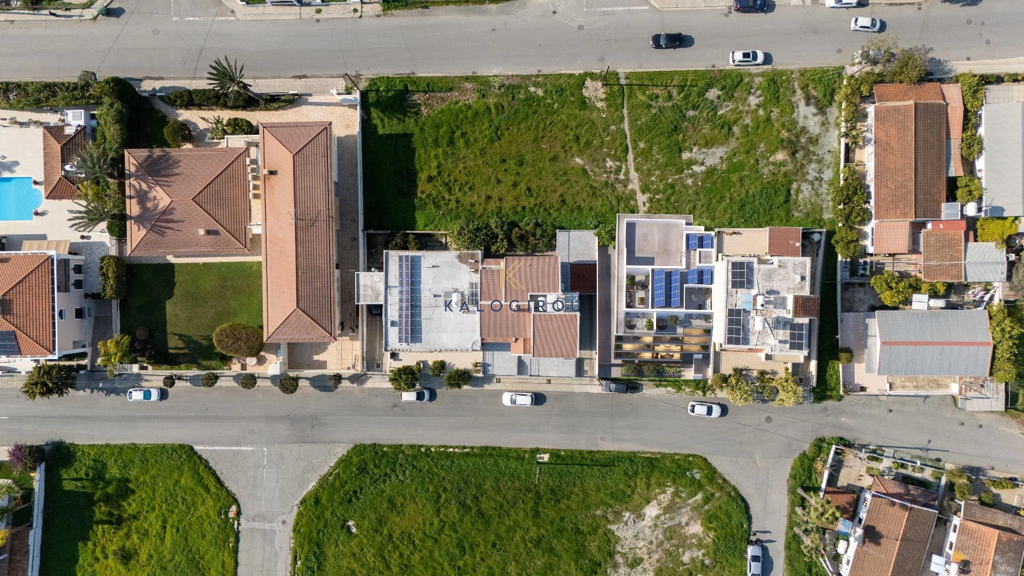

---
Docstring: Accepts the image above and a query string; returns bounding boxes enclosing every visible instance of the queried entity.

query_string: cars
[650,30,684,48]
[127,387,162,403]
[687,401,721,419]
[399,388,430,404]
[747,545,764,576]
[601,380,630,395]
[729,48,764,66]
[732,0,766,13]
[368,304,384,326]
[849,15,881,32]
[824,0,859,9]
[502,391,534,408]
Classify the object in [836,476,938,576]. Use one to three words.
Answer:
house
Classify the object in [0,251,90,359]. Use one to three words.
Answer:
house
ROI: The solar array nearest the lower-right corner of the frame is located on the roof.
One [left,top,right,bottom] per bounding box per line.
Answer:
[791,323,806,351]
